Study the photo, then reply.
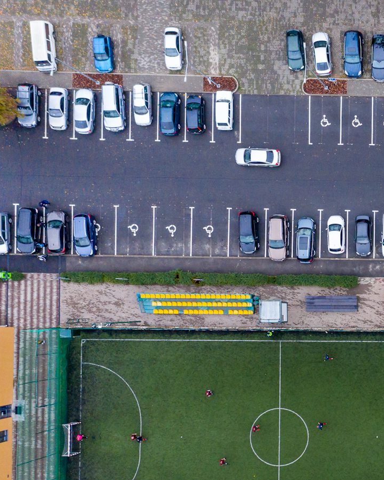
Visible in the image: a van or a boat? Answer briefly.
van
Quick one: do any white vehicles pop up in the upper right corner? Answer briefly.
Yes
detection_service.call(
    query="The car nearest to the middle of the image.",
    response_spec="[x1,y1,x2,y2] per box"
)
[238,210,261,254]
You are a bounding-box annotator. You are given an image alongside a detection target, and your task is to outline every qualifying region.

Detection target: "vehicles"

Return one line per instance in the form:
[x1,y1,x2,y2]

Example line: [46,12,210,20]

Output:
[89,32,116,73]
[45,210,71,254]
[237,146,282,167]
[157,92,182,136]
[352,215,373,257]
[370,35,384,83]
[294,217,318,264]
[162,27,185,71]
[238,210,261,254]
[24,18,59,72]
[101,81,127,131]
[341,30,365,79]
[131,83,154,127]
[213,91,236,131]
[0,212,13,254]
[310,33,334,77]
[73,214,98,257]
[46,87,71,131]
[267,214,290,261]
[285,30,307,72]
[16,207,44,254]
[183,95,207,134]
[71,89,98,135]
[14,83,43,128]
[325,215,347,254]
